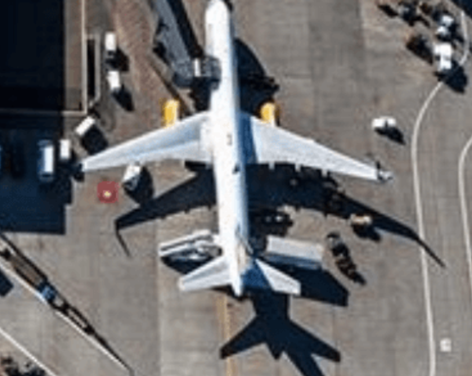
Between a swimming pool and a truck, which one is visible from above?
truck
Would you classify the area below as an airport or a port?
airport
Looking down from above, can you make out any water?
No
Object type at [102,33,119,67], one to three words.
vehicle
